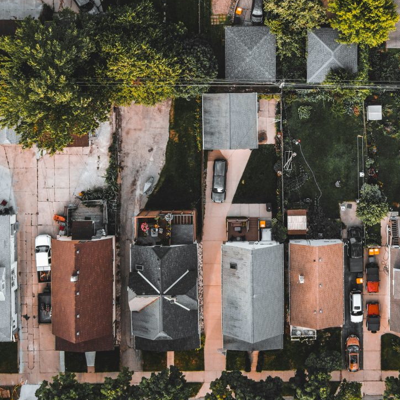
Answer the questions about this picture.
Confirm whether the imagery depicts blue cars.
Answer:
No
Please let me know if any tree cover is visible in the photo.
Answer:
Yes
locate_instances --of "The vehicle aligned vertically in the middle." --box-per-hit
[209,159,226,204]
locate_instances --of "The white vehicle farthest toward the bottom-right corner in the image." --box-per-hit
[349,291,366,326]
